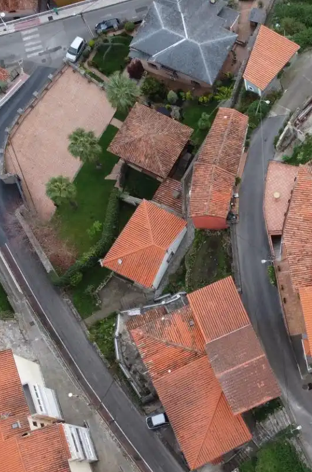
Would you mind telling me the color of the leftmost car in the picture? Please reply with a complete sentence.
The leftmost car is white.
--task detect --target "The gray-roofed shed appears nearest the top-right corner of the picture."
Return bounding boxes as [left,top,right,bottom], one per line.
[250,9,268,32]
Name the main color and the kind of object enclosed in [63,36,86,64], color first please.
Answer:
white car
